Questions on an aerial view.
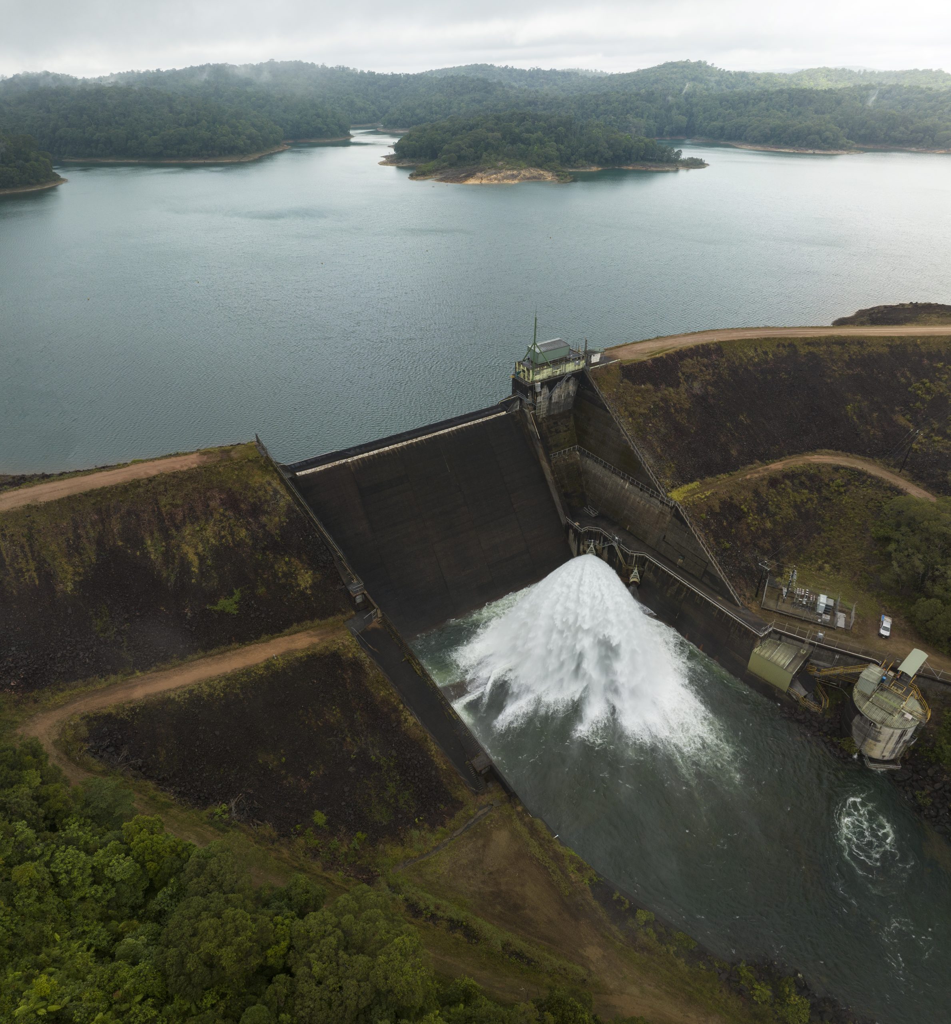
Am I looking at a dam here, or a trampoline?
dam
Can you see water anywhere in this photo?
Yes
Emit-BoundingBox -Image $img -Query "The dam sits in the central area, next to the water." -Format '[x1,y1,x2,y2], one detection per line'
[285,387,567,717]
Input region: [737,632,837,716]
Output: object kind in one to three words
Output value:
shed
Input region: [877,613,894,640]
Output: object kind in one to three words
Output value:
vehicle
